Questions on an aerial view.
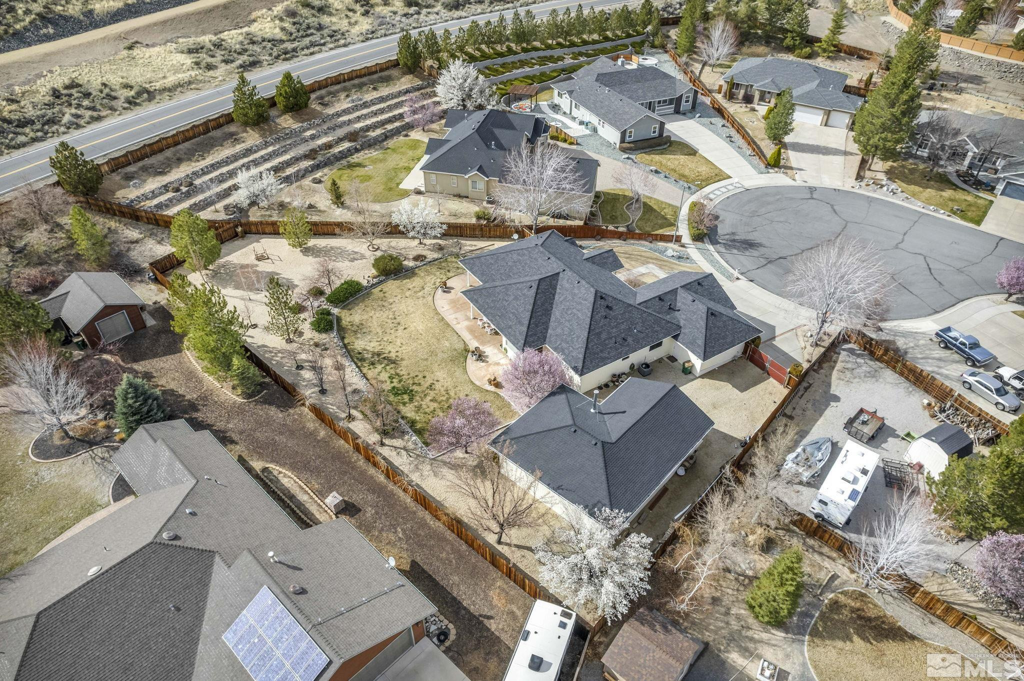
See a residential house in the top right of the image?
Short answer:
Yes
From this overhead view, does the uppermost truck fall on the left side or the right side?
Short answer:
right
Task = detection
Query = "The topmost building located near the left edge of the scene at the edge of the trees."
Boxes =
[35,271,148,351]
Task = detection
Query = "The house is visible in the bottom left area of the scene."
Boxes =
[0,418,439,681]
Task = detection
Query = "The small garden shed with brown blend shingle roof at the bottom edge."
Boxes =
[600,607,701,681]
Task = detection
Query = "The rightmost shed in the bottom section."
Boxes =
[896,420,956,472]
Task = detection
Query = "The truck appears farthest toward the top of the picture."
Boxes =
[932,324,1001,370]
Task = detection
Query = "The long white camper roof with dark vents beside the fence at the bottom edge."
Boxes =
[502,600,576,681]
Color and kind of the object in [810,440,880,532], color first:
white trailer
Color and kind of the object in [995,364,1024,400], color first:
white car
